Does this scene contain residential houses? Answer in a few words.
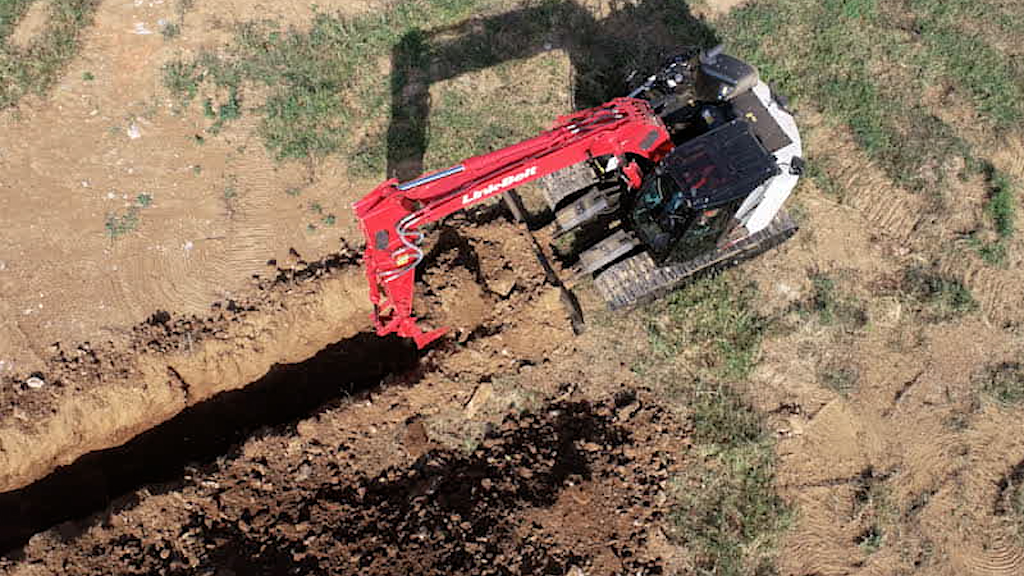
No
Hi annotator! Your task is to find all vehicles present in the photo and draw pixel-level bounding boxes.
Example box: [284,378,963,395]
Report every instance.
[347,41,810,349]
